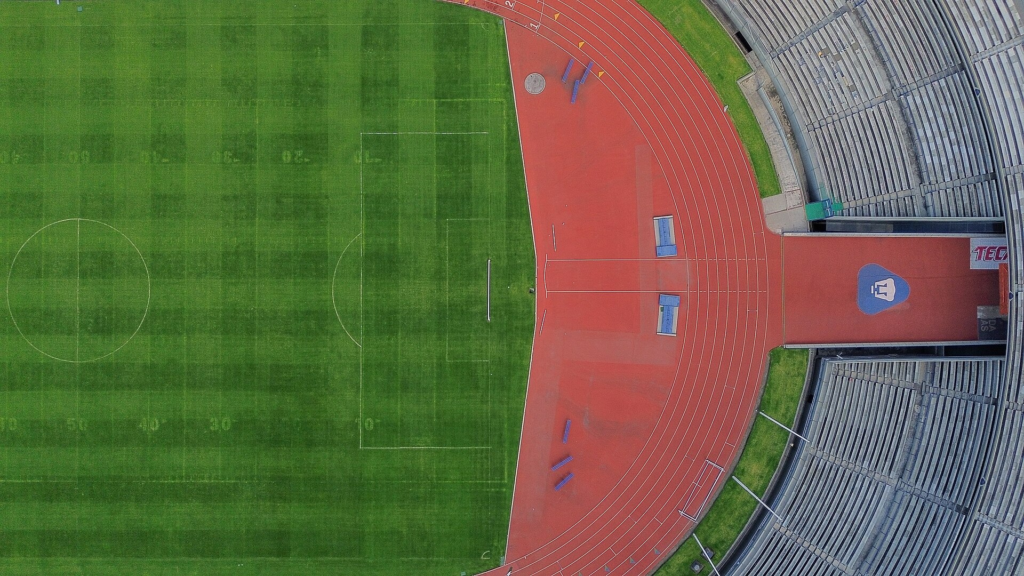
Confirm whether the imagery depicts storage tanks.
No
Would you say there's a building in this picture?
No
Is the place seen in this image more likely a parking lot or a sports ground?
sports ground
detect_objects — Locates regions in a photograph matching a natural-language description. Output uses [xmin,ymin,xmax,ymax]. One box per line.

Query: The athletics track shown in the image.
[428,0,768,576]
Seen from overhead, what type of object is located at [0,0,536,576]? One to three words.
sports field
